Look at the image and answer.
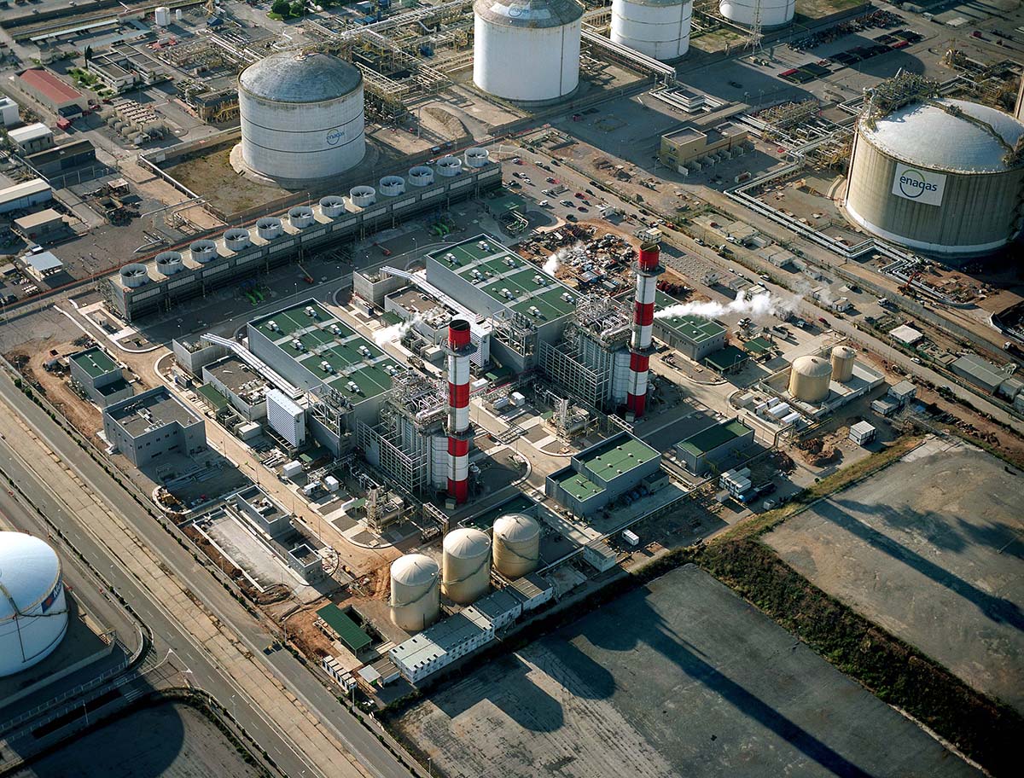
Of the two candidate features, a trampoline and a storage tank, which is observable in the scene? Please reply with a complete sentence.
Of the two, only a storage tank appears.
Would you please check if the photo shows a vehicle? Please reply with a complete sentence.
Yes, the frame does contain a vehicle.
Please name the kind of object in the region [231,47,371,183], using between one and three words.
storage tank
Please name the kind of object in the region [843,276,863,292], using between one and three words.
vehicle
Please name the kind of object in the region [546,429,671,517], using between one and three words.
building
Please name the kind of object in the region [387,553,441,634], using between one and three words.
storage tank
